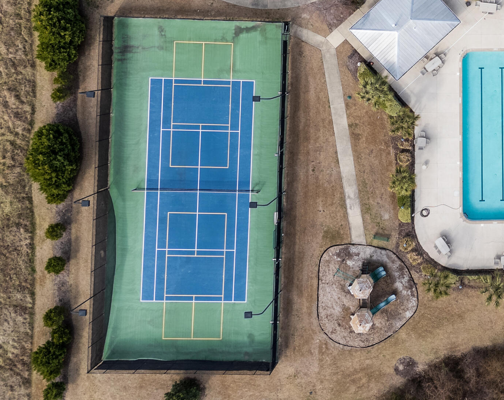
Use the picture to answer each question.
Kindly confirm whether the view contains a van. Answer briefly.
No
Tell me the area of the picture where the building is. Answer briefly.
top right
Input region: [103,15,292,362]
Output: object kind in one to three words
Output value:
tennis court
